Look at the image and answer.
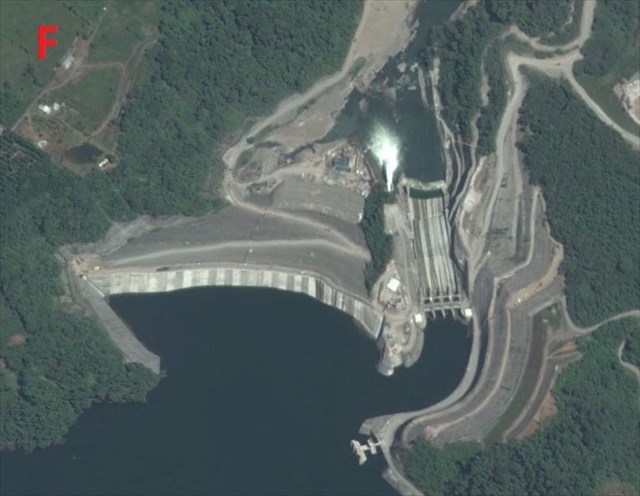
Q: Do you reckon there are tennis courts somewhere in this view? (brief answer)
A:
No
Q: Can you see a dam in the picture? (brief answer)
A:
Yes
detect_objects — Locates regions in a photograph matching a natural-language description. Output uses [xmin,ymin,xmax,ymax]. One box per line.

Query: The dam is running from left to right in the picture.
[76,205,384,339]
